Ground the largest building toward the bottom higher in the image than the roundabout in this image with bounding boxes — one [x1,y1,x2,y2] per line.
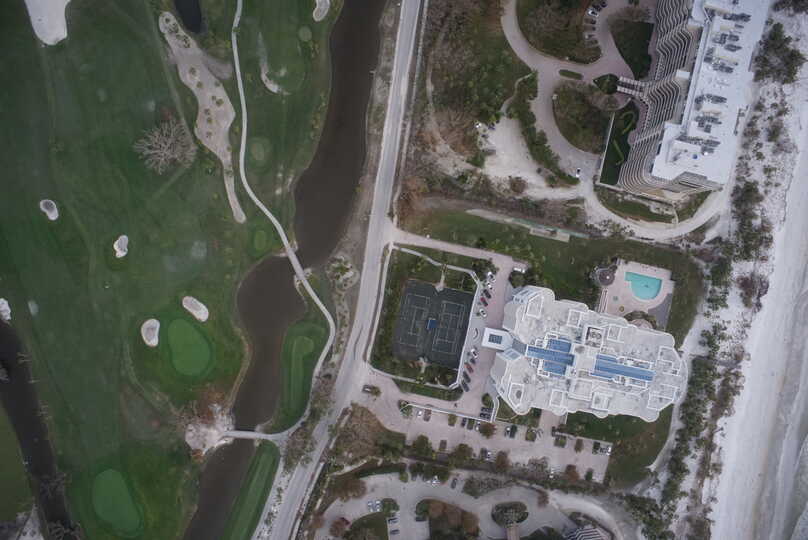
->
[482,283,689,422]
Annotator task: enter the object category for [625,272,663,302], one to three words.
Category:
swimming pool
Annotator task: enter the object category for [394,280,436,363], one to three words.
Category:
tennis court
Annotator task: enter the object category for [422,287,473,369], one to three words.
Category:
tennis court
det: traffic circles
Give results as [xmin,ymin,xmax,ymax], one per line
[480,491,541,533]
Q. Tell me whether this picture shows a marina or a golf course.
golf course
